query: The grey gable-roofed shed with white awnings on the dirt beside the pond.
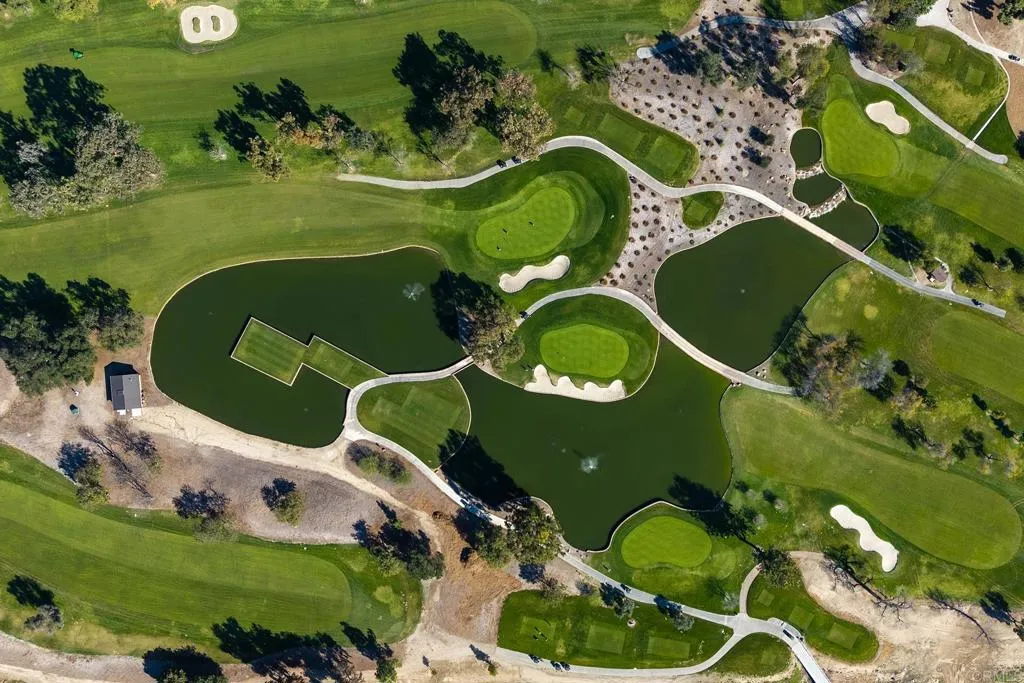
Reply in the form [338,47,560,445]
[109,374,145,416]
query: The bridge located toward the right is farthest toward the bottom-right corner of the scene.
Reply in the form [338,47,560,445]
[793,640,836,683]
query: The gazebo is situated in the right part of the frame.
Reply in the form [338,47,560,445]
[936,267,953,283]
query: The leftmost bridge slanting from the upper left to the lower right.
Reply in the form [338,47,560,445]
[651,314,740,382]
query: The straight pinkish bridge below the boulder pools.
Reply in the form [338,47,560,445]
[778,204,872,265]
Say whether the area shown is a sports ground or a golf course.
golf course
